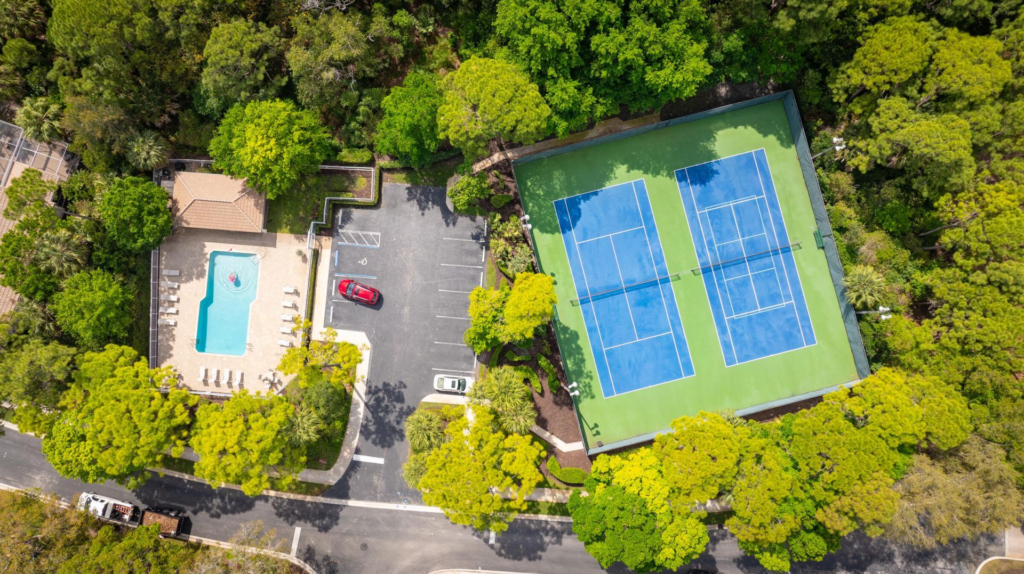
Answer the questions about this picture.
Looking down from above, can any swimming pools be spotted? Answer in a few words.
Yes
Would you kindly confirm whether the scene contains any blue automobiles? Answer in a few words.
No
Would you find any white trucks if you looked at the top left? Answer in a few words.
No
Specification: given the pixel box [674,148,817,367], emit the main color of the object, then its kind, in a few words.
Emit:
blue tennis court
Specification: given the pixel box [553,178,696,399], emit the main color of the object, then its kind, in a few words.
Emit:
blue tennis court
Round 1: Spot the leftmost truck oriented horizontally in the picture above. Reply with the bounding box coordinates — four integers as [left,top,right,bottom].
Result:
[78,492,137,525]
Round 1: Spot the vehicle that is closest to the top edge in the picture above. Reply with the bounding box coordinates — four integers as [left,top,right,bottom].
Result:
[339,281,379,305]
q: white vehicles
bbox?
[433,374,476,394]
[78,492,137,525]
